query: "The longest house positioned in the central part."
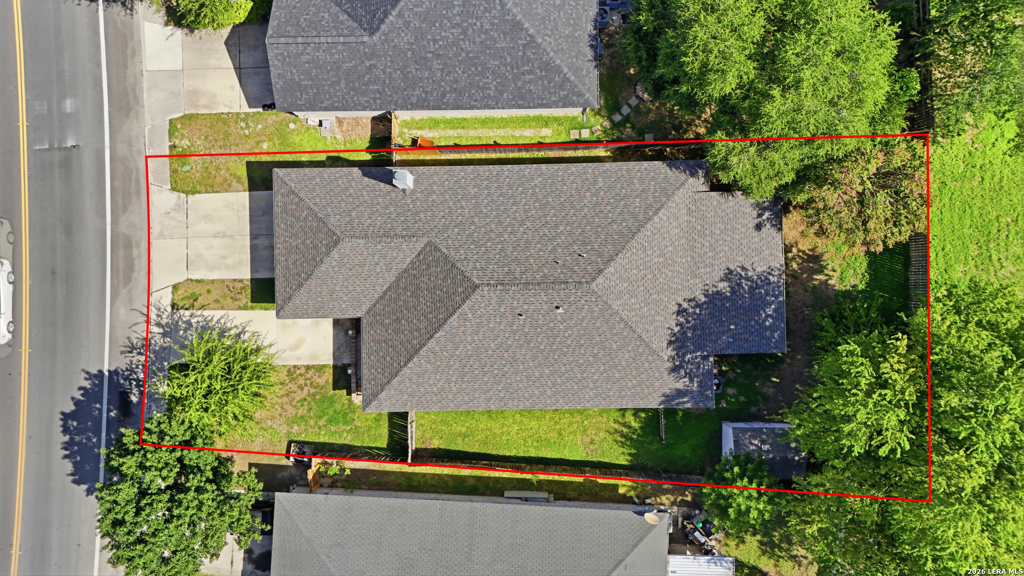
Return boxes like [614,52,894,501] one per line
[272,161,786,415]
